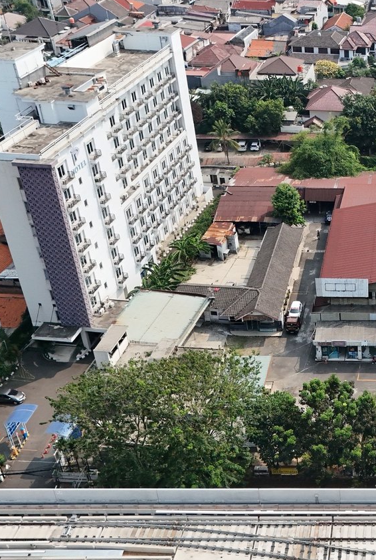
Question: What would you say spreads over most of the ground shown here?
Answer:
buildings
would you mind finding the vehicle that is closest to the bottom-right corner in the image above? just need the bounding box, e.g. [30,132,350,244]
[287,313,302,333]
